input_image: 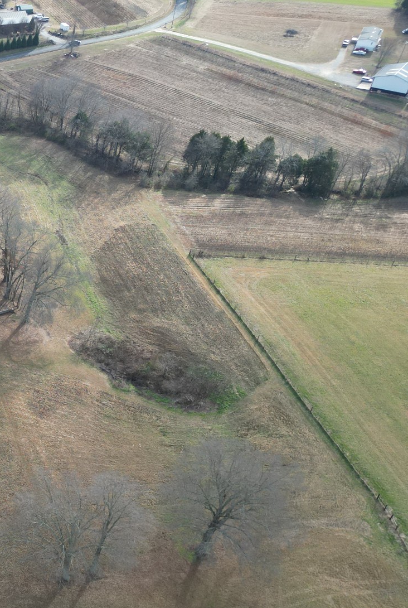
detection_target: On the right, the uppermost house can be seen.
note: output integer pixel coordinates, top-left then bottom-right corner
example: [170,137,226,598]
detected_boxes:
[349,27,383,55]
